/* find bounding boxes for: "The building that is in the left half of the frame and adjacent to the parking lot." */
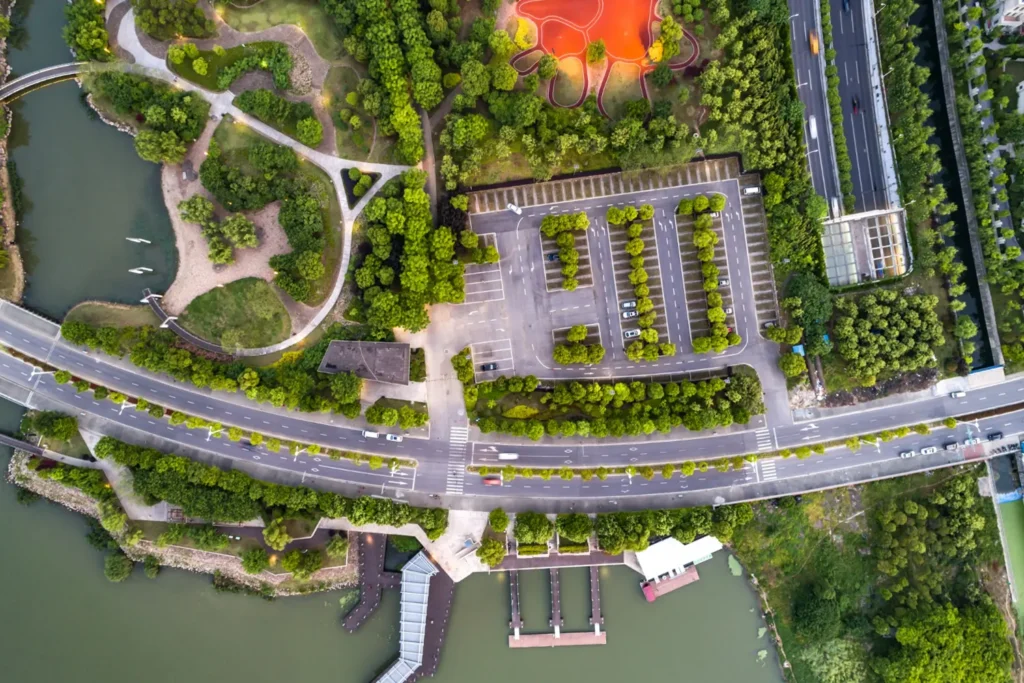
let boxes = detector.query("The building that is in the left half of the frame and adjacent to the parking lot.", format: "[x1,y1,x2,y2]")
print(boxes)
[317,339,411,389]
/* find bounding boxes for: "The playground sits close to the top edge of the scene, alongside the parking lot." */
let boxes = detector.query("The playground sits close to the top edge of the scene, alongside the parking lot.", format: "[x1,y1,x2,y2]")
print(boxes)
[506,0,700,128]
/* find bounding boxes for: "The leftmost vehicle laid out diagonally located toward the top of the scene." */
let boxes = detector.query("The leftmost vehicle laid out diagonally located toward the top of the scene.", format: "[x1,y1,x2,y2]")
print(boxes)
[505,203,521,215]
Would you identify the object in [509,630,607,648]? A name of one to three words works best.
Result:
pier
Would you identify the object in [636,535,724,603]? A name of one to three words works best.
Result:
building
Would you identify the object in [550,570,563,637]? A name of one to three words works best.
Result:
pier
